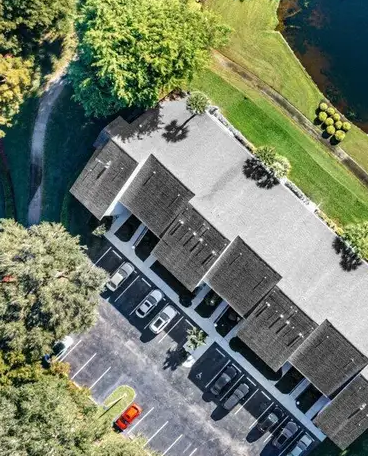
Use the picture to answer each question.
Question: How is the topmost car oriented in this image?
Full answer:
What the image shows is the topmost car lying at an angle.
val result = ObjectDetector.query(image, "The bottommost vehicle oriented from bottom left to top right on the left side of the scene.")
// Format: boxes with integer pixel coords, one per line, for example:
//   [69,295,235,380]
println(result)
[114,401,144,431]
